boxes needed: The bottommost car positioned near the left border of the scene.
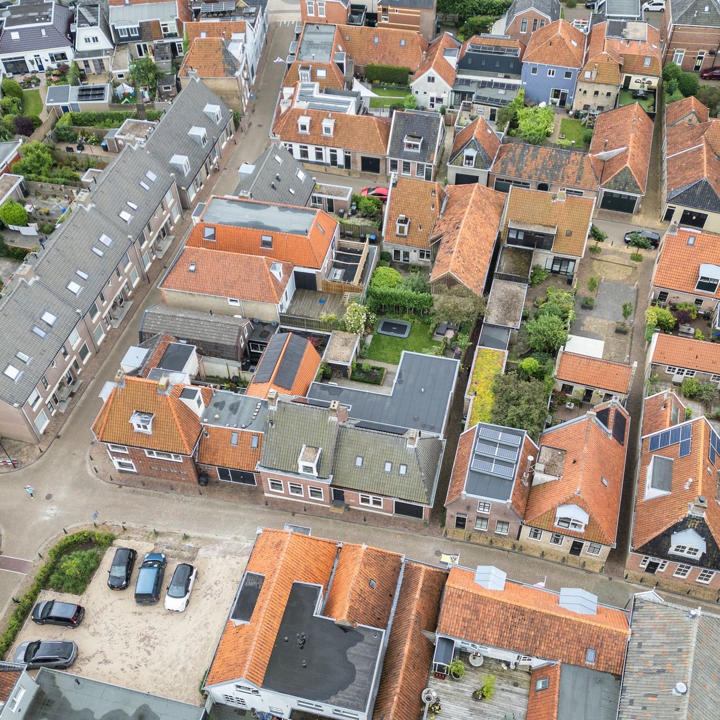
[12,641,75,670]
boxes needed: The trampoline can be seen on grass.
[377,319,411,340]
